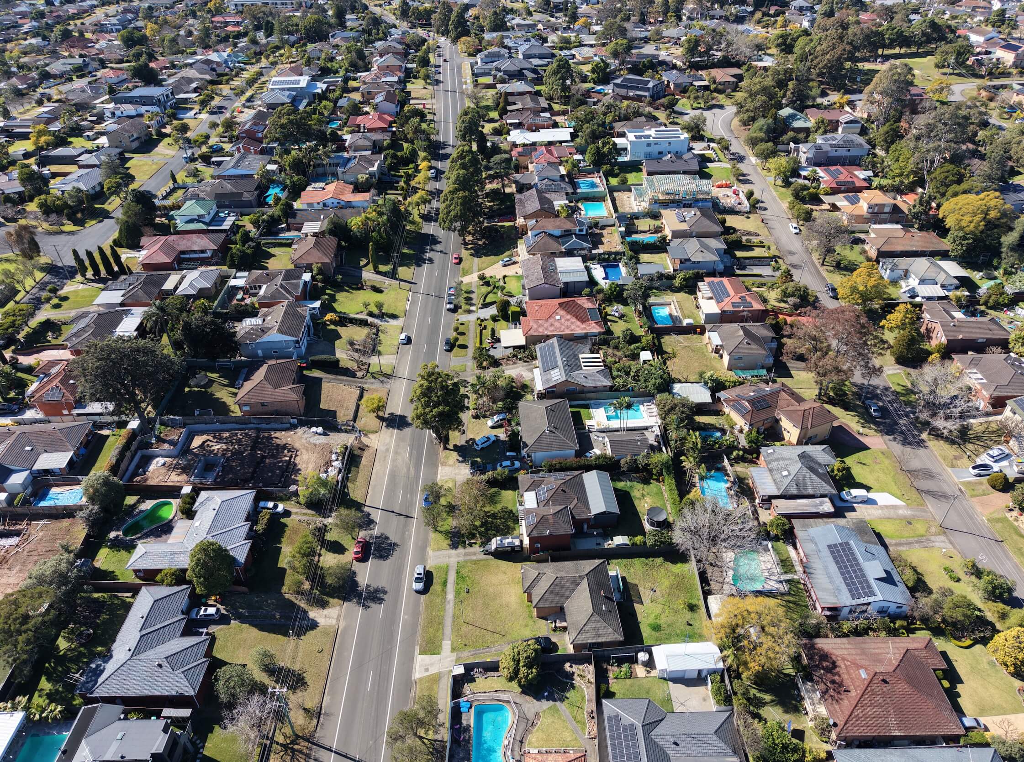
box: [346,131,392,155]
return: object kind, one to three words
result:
house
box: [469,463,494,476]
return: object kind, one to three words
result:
vehicle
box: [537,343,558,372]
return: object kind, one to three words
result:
solar array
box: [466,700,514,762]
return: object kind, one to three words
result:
swimming pool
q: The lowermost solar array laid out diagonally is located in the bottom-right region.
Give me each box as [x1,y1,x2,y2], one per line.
[830,541,877,599]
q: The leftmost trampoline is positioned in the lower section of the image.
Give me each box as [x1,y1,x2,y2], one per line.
[70,624,95,646]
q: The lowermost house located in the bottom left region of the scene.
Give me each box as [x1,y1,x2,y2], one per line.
[58,702,173,762]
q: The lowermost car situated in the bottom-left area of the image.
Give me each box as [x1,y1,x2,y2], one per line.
[188,605,223,624]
